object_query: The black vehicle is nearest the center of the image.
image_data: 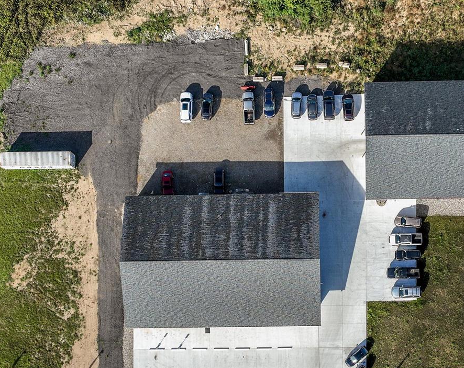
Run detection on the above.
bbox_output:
[212,168,226,193]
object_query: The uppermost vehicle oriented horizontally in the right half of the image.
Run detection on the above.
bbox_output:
[394,214,422,228]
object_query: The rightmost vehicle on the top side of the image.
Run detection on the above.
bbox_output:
[341,94,355,121]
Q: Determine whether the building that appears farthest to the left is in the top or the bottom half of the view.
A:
bottom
